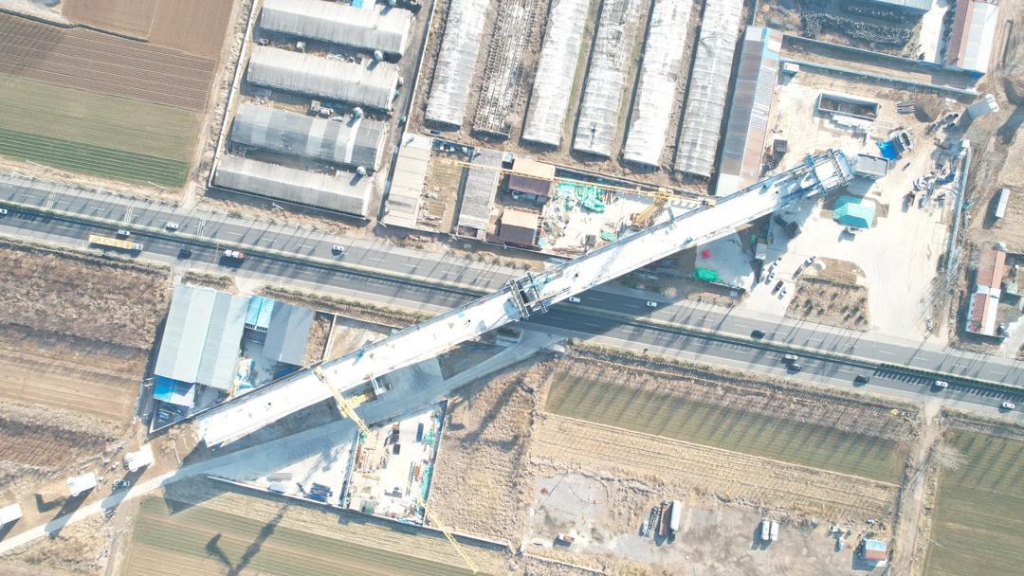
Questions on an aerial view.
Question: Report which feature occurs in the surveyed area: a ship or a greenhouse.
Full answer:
There is a greenhouse in the scene.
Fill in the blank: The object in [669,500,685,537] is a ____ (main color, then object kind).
white vehicle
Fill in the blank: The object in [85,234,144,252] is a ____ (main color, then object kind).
white vehicle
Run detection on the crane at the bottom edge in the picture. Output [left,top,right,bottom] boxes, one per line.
[311,367,479,574]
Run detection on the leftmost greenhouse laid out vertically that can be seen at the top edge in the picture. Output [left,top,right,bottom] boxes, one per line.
[425,0,489,127]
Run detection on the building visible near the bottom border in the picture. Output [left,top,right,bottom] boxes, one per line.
[857,537,887,559]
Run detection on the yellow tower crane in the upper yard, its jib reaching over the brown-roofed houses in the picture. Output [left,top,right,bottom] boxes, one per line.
[455,159,714,220]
